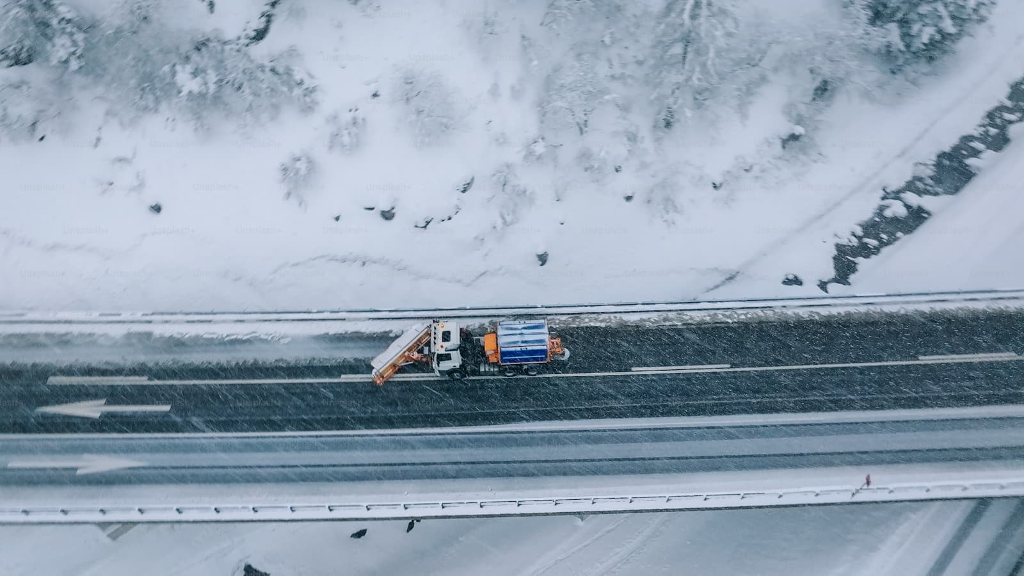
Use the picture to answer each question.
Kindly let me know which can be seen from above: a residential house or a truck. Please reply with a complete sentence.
The one in the frame is a truck.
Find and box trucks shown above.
[370,317,571,389]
